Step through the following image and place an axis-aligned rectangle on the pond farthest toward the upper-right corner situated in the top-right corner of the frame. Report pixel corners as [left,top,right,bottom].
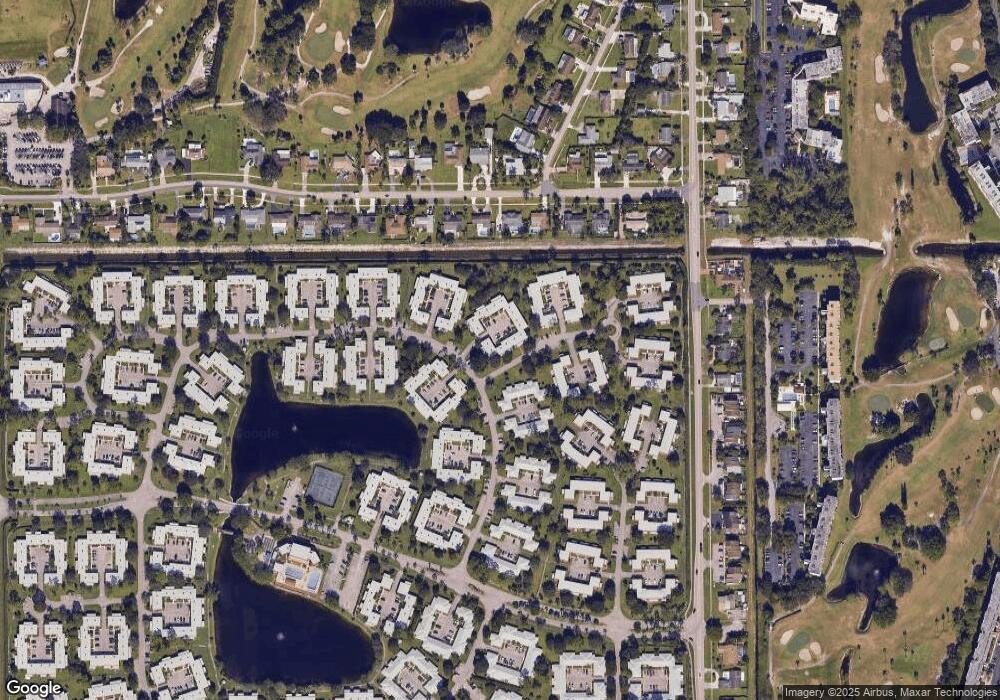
[901,0,972,132]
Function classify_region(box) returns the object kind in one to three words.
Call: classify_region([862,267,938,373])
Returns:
pond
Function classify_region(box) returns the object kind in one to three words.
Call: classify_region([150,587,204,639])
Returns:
building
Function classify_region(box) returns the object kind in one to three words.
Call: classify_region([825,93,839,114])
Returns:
swimming pool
